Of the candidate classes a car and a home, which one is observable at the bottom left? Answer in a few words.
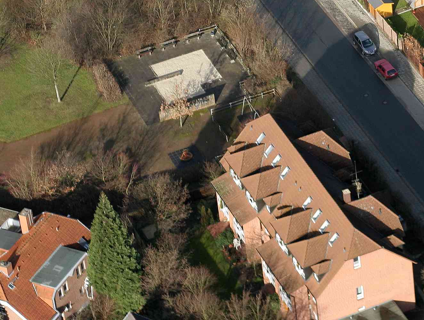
home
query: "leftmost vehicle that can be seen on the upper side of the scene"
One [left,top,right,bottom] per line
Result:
[352,28,378,56]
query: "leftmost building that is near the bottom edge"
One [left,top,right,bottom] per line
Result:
[0,207,91,320]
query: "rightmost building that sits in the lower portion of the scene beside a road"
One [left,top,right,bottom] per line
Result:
[210,106,422,320]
